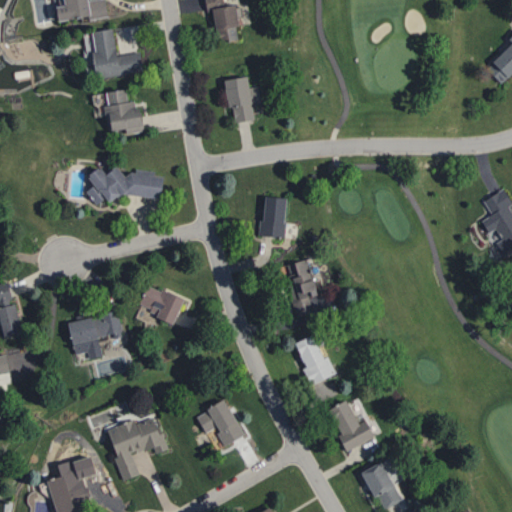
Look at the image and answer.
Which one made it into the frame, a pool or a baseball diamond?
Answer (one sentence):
Looking from above, you can make out a pool.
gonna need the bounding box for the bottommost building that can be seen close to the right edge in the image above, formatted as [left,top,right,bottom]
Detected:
[482,188,512,233]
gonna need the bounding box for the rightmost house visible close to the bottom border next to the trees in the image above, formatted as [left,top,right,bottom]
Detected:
[363,460,400,510]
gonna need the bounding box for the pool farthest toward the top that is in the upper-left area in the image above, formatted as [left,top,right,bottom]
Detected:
[32,0,54,29]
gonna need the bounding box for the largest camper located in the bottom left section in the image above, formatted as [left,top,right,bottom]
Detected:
[106,479,118,498]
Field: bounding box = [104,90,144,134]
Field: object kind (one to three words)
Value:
house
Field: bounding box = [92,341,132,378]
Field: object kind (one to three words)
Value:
swimming pool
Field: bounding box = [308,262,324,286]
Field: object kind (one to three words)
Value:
swimming pool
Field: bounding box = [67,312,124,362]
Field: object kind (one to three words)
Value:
house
